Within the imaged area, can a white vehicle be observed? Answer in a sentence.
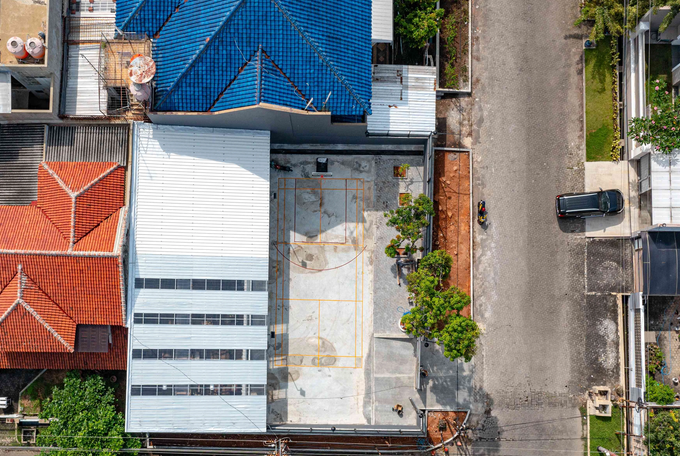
No, I find no white vehicle anywhere in the image.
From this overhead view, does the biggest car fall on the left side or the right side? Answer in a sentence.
The biggest car appears in the right half of the scene.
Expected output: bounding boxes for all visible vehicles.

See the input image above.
[559,185,626,220]
[270,155,294,169]
[479,199,490,225]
